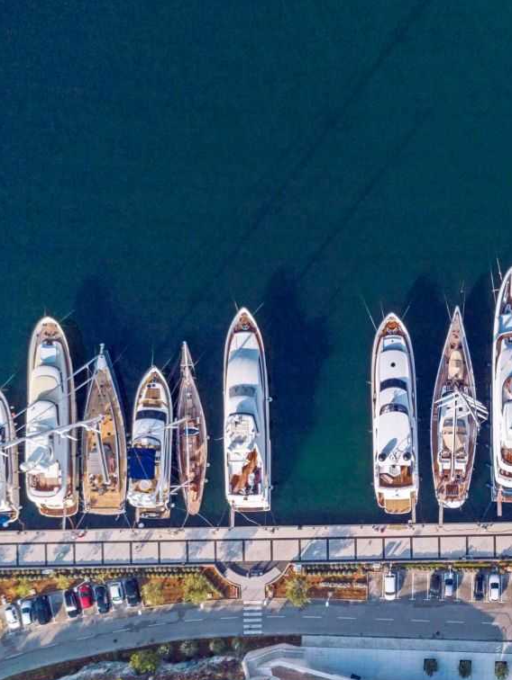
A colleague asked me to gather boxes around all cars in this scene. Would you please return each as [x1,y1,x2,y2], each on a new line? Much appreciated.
[472,573,485,600]
[442,571,455,596]
[35,593,54,624]
[80,584,95,609]
[21,599,36,625]
[65,589,82,617]
[96,586,111,612]
[488,573,500,600]
[111,581,126,604]
[127,578,141,605]
[5,602,22,626]
[430,575,441,600]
